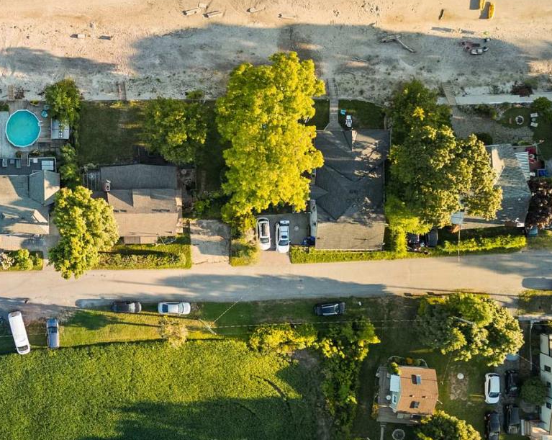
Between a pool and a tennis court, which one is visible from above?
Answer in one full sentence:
I can see a pool in this picture.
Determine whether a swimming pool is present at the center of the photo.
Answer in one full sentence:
No, there's no swimming pool to be seen at the center of the photo.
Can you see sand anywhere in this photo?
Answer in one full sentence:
Yes, sand shows up in the scene.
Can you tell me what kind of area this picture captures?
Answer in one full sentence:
What you see here is a residential area.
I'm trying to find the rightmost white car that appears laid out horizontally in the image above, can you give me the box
[157,300,190,316]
